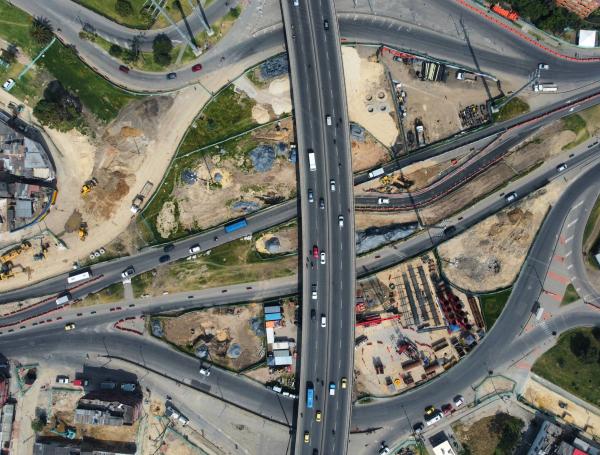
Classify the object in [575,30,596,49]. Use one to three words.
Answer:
building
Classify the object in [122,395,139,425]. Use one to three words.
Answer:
house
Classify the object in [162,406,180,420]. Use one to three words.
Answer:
vehicle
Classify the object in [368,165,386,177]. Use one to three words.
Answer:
vehicle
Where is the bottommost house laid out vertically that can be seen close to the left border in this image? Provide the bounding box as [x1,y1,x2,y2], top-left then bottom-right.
[1,401,18,449]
